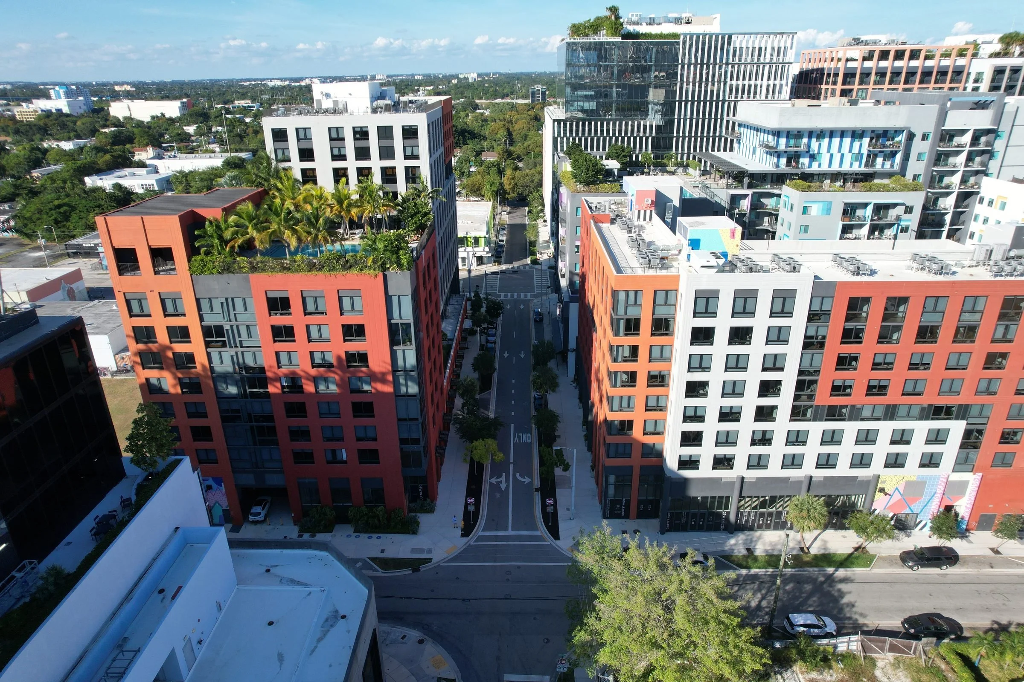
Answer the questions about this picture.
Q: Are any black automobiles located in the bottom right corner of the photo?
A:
Yes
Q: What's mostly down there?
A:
buildings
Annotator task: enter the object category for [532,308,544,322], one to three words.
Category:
vehicle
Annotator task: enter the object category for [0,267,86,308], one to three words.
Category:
building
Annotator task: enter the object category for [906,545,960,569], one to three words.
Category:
car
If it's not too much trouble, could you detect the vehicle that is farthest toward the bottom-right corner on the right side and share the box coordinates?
[906,614,966,638]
